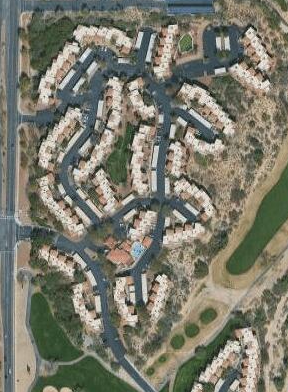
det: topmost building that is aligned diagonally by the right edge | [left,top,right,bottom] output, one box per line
[243,29,277,68]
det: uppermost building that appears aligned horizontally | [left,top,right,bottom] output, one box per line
[75,23,134,51]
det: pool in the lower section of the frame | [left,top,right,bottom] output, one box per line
[130,242,147,262]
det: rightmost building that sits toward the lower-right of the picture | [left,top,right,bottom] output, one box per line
[239,331,264,392]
